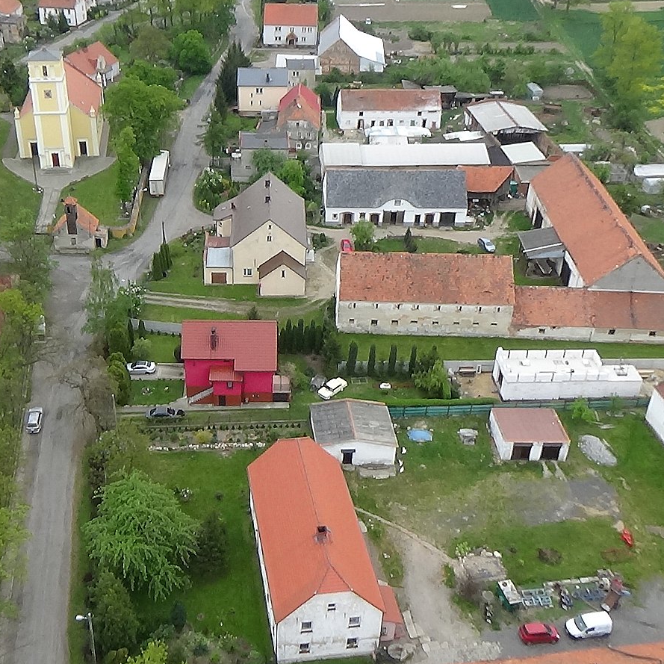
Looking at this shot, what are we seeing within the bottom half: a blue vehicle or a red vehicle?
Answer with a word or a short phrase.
red vehicle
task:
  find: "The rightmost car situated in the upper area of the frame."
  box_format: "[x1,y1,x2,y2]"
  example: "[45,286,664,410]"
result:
[478,237,496,253]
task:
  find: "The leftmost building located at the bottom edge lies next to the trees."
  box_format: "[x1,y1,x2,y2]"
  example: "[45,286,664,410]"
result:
[246,435,390,664]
